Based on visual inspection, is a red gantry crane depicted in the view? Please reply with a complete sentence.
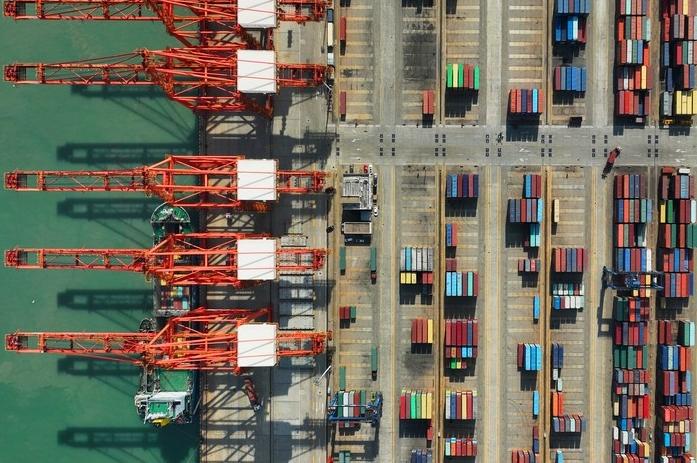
Yes, there's a red gantry crane down there.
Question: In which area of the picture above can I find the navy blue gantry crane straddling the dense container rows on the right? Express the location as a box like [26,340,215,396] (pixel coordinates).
[604,268,666,290]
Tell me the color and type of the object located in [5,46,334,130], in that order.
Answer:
red container crane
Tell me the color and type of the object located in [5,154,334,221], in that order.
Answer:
red container crane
